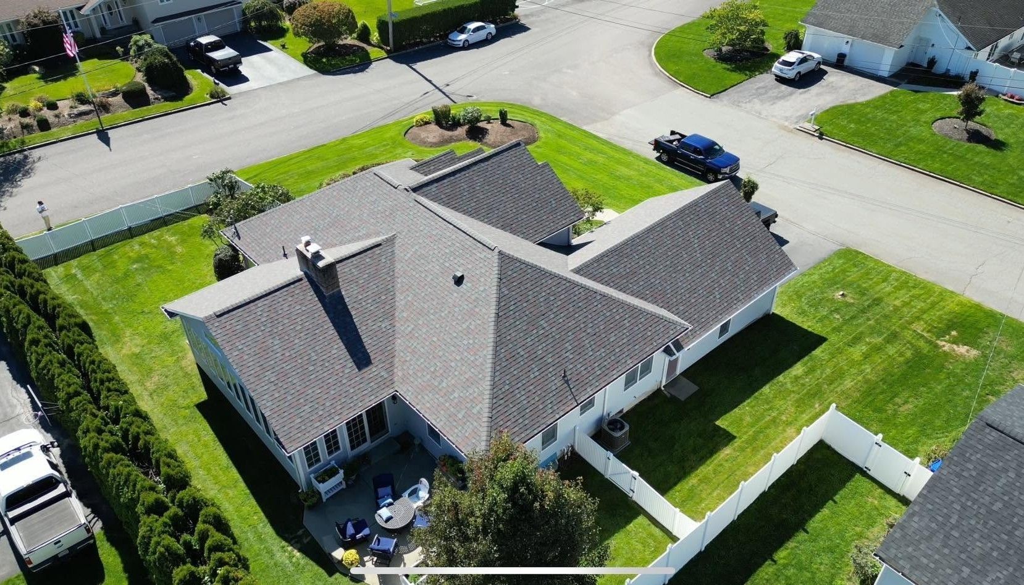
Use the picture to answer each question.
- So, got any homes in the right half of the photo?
Yes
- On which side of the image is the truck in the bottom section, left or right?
left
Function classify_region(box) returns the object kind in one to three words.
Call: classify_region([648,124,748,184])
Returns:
truck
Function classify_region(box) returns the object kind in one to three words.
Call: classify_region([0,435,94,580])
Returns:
truck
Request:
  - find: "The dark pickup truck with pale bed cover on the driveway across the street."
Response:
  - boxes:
[187,36,243,73]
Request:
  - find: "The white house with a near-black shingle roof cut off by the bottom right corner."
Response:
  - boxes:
[868,385,1024,585]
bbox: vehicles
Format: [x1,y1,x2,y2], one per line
[648,124,748,184]
[0,435,94,580]
[444,22,498,49]
[187,36,243,73]
[771,48,824,81]
[746,201,781,236]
